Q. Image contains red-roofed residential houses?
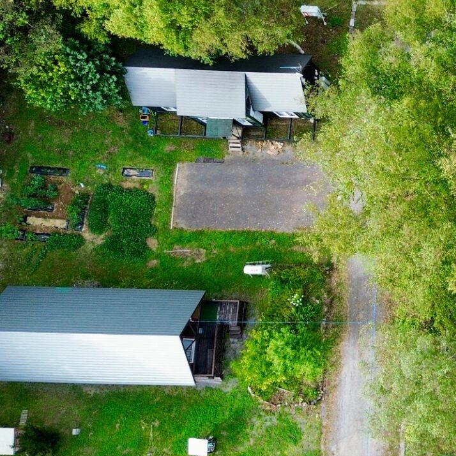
No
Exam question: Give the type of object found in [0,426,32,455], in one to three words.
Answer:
shed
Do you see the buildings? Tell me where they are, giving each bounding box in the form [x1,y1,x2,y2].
[0,426,32,455]
[0,286,230,391]
[124,48,320,154]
